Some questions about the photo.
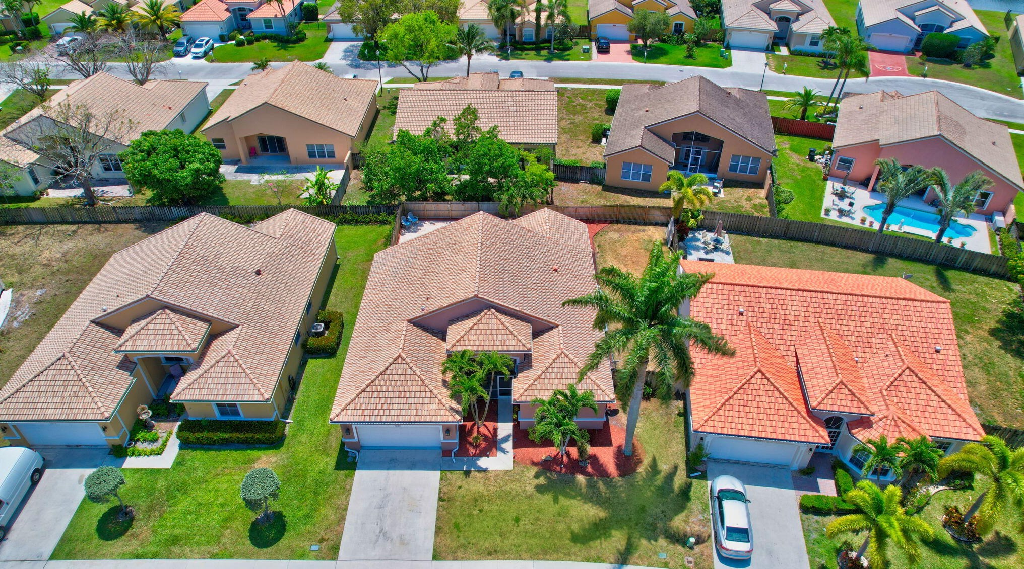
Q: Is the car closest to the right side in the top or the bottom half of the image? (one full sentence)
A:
You can find the car closest to the right side in the bottom half.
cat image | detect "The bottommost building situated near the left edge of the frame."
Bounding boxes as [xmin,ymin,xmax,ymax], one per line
[0,206,339,446]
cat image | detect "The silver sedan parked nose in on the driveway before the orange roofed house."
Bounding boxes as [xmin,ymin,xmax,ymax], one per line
[713,479,753,557]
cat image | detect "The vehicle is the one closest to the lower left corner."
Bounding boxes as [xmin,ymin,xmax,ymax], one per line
[0,448,41,538]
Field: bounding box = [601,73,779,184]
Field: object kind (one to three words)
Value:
house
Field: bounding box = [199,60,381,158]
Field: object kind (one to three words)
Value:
house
